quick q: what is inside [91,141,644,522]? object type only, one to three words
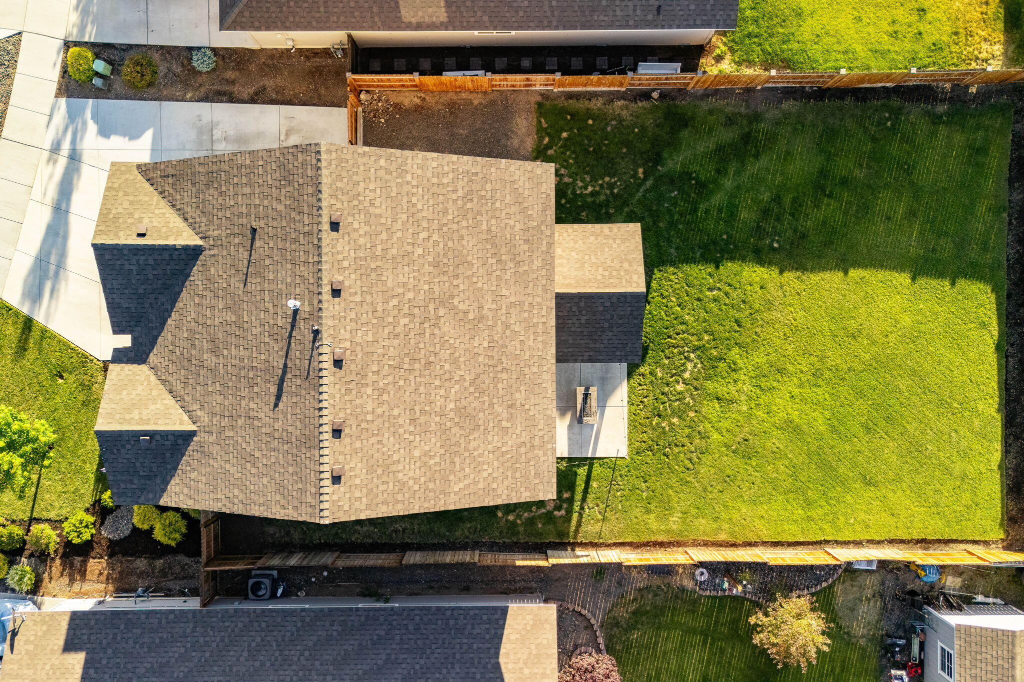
house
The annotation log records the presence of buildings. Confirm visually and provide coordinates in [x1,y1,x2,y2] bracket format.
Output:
[0,596,558,682]
[924,604,1024,682]
[91,141,644,522]
[217,0,740,58]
